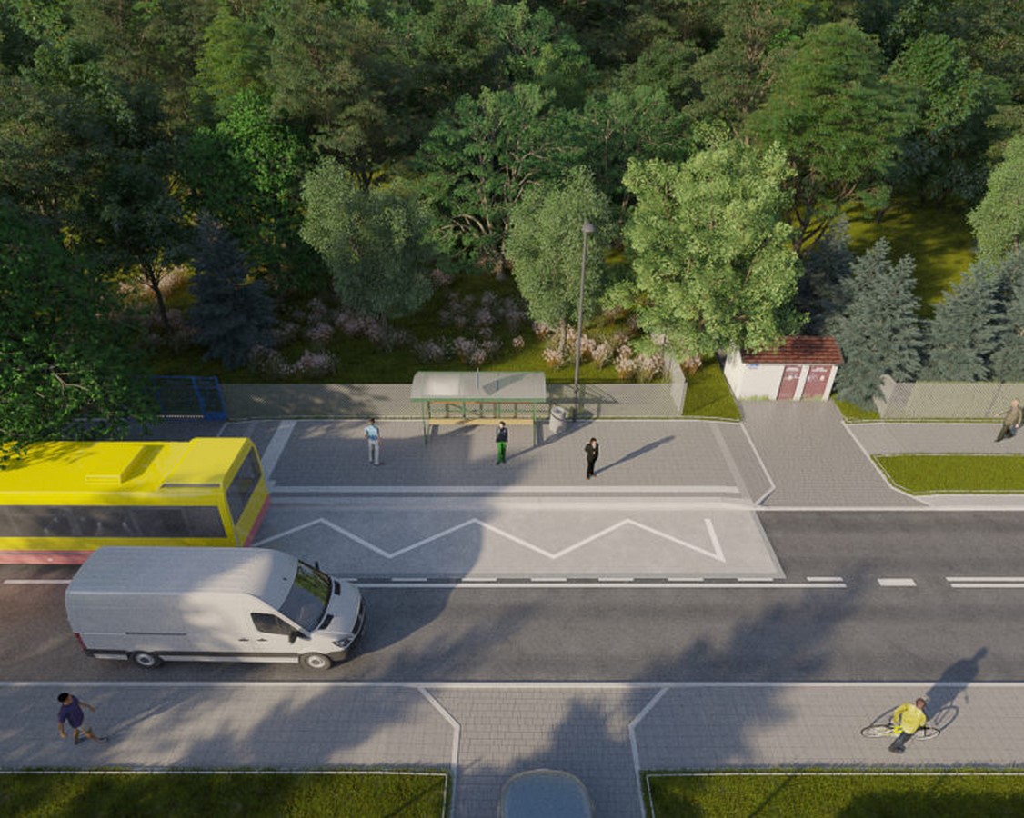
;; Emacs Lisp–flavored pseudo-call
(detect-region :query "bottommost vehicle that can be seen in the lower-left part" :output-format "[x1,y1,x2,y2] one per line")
[69,546,370,671]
